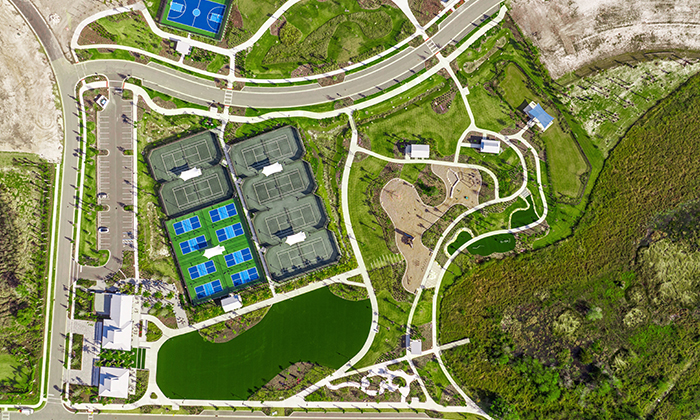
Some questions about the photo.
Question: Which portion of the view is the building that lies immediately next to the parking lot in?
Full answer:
The building that lies immediately next to the parking lot is located in the bottom left region of the scene.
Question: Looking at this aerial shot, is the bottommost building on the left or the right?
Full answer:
The bottommost building appears in the left half of the scene.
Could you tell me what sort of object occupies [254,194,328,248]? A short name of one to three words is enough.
tennis court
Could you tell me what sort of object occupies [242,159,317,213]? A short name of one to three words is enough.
tennis court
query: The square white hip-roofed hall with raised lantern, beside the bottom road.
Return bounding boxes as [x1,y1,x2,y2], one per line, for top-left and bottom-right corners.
[98,366,131,398]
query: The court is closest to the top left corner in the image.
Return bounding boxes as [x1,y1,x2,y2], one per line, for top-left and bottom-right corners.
[161,0,231,38]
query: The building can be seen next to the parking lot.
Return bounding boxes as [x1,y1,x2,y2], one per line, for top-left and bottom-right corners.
[94,293,135,350]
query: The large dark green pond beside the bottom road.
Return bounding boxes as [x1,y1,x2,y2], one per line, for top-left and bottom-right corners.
[154,285,372,401]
